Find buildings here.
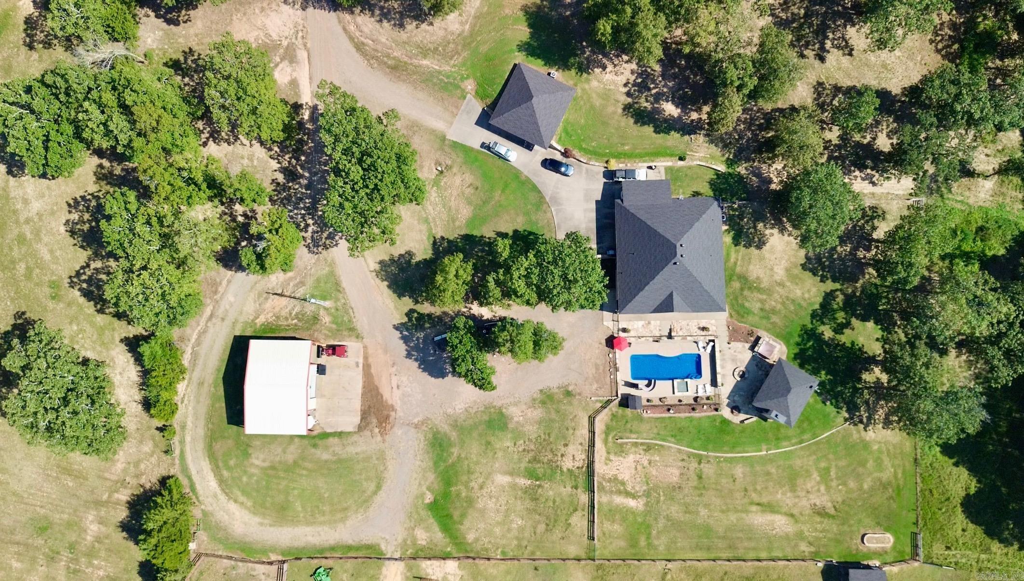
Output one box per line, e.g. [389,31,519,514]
[841,562,887,581]
[243,339,320,437]
[489,62,576,149]
[750,357,820,428]
[628,395,643,410]
[614,179,727,315]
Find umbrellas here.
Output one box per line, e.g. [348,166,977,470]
[613,335,627,351]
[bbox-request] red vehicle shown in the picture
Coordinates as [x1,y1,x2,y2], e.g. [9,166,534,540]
[318,344,346,358]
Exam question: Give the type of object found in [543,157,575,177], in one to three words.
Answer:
car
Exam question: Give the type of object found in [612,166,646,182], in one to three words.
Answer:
car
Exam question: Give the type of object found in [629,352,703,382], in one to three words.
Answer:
swimming pool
